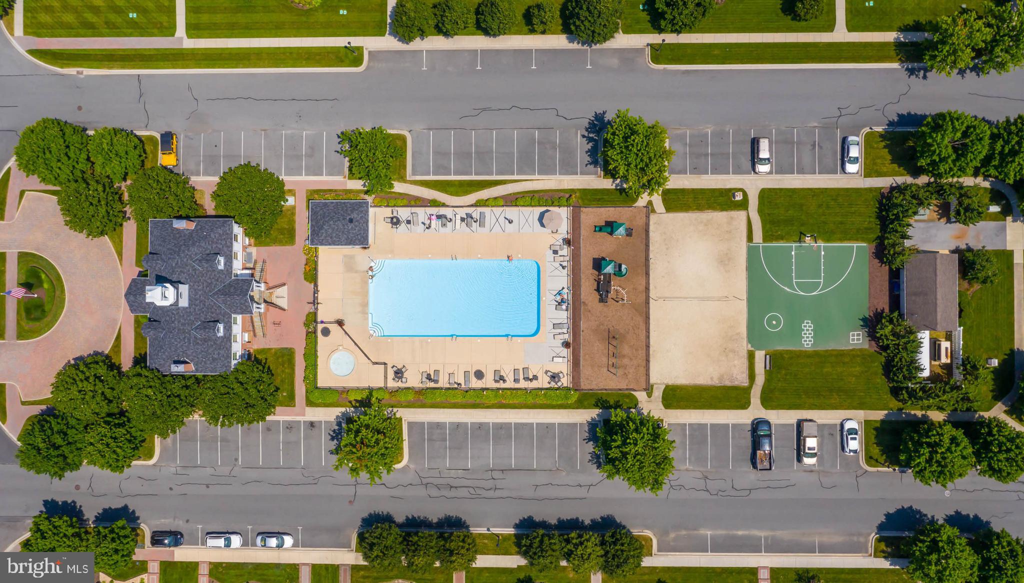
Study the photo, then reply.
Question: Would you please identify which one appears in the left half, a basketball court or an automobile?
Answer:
automobile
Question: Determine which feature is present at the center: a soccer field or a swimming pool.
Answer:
swimming pool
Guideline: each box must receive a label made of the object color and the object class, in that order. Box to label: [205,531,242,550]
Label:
white car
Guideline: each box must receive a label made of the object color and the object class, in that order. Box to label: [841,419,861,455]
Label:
white car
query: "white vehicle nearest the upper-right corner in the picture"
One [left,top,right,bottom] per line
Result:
[843,137,861,174]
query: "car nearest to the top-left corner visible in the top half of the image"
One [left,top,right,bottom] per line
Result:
[159,133,178,164]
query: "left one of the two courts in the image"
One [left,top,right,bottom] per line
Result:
[650,210,749,385]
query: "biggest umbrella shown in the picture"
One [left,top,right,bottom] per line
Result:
[543,211,563,231]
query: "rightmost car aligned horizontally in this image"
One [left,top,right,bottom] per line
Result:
[256,532,294,550]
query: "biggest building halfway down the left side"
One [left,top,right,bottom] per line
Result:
[123,218,290,375]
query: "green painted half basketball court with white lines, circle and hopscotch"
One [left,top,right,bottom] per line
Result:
[748,242,869,351]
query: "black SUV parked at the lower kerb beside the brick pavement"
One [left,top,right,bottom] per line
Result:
[148,531,184,549]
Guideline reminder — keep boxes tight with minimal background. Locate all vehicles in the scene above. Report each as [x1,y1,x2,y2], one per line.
[754,137,773,174]
[256,532,294,550]
[843,137,861,174]
[799,419,819,465]
[205,531,242,550]
[148,531,184,549]
[754,421,774,471]
[159,133,178,164]
[841,419,861,455]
